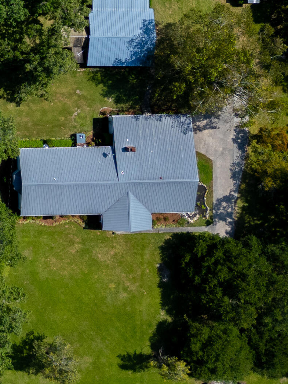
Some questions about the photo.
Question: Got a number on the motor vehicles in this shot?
none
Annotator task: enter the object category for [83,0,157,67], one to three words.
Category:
barn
